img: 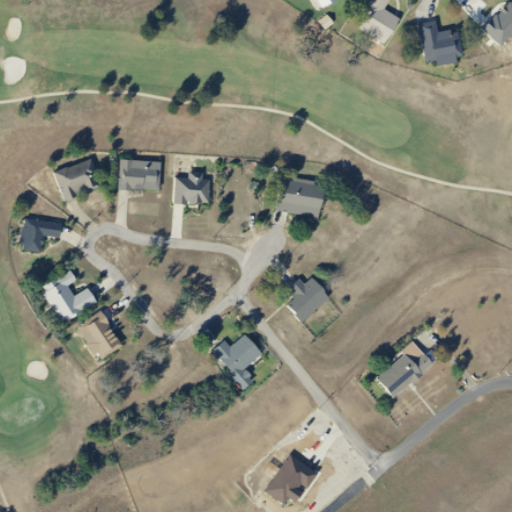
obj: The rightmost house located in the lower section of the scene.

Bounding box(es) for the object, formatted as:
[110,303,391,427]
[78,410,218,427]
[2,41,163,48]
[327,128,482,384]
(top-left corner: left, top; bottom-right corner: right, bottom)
[379,342,433,398]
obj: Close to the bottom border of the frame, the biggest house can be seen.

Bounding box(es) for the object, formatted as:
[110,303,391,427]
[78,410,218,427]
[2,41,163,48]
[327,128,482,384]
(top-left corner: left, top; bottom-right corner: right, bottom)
[264,451,321,510]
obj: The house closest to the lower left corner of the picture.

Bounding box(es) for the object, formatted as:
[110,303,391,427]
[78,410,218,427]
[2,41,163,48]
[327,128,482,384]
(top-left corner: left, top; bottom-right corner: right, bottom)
[81,312,120,358]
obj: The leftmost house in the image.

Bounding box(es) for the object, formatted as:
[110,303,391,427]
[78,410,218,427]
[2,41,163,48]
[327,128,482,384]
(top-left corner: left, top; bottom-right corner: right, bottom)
[22,218,62,253]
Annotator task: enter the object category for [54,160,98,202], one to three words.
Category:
house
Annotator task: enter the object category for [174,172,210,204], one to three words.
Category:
house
